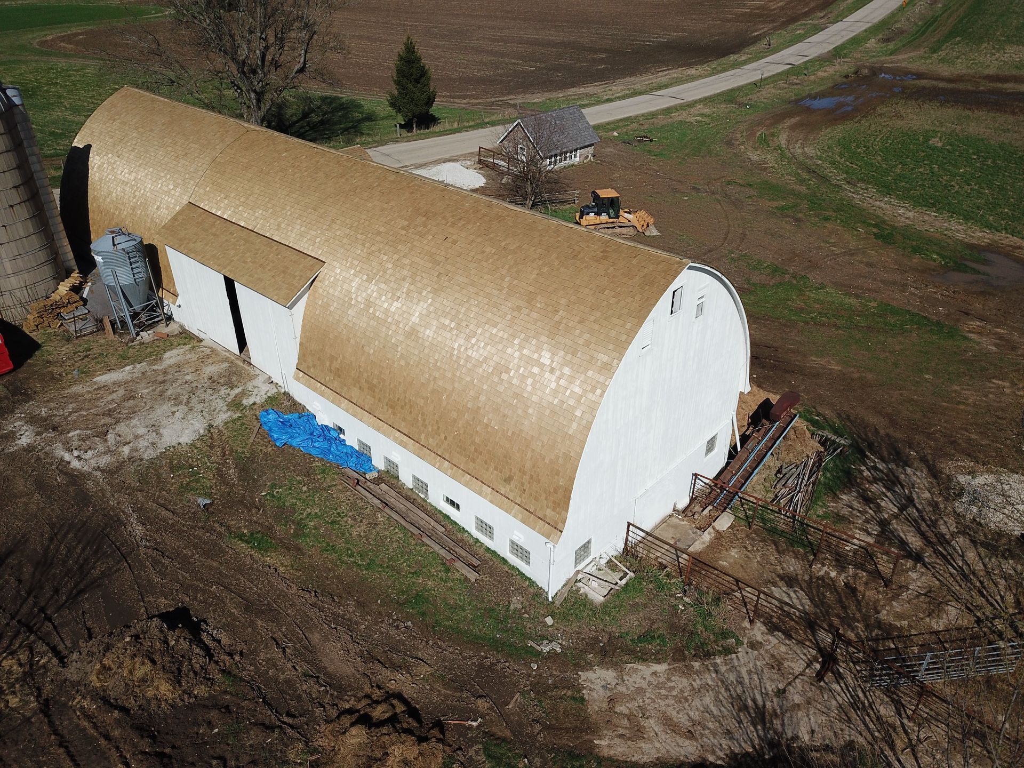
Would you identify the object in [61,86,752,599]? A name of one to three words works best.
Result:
barn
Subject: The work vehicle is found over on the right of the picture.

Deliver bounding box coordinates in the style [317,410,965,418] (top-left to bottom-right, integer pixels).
[581,183,663,239]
